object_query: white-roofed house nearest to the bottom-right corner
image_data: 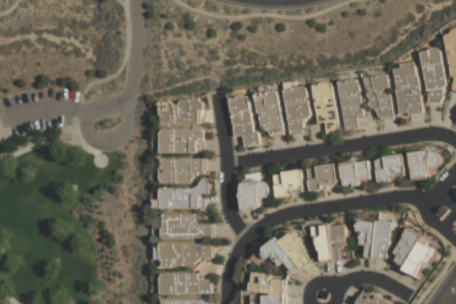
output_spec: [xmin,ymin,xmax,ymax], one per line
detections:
[401,240,436,278]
